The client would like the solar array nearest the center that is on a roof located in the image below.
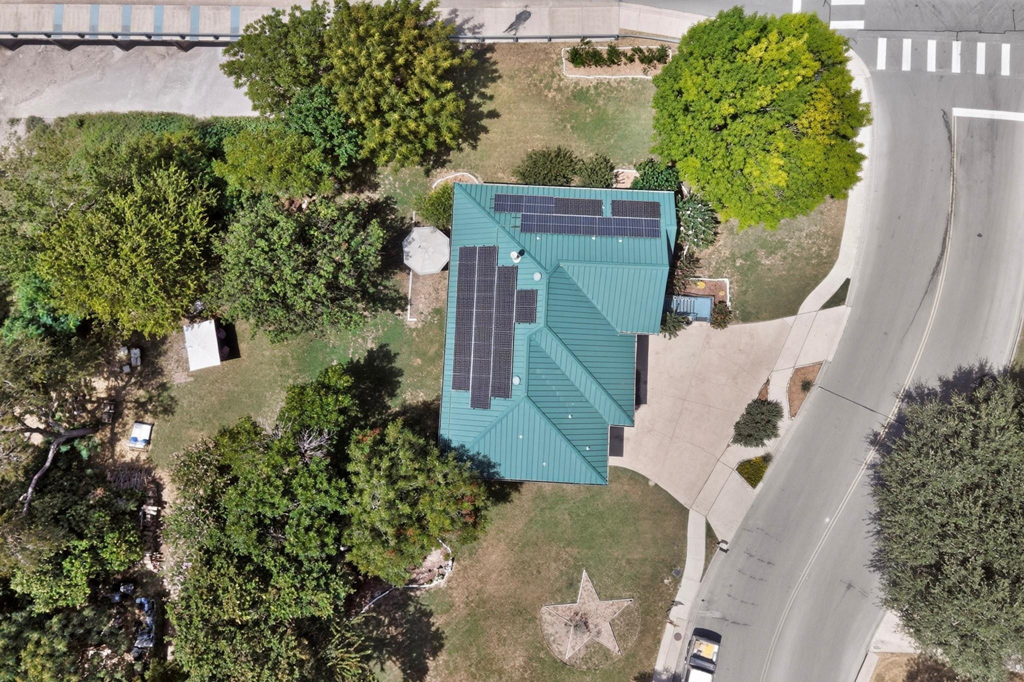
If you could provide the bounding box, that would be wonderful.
[451,244,536,410]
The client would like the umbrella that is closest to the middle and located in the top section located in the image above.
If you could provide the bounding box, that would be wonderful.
[403,227,448,275]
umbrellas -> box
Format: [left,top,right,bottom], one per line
[403,227,448,275]
[184,319,221,371]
